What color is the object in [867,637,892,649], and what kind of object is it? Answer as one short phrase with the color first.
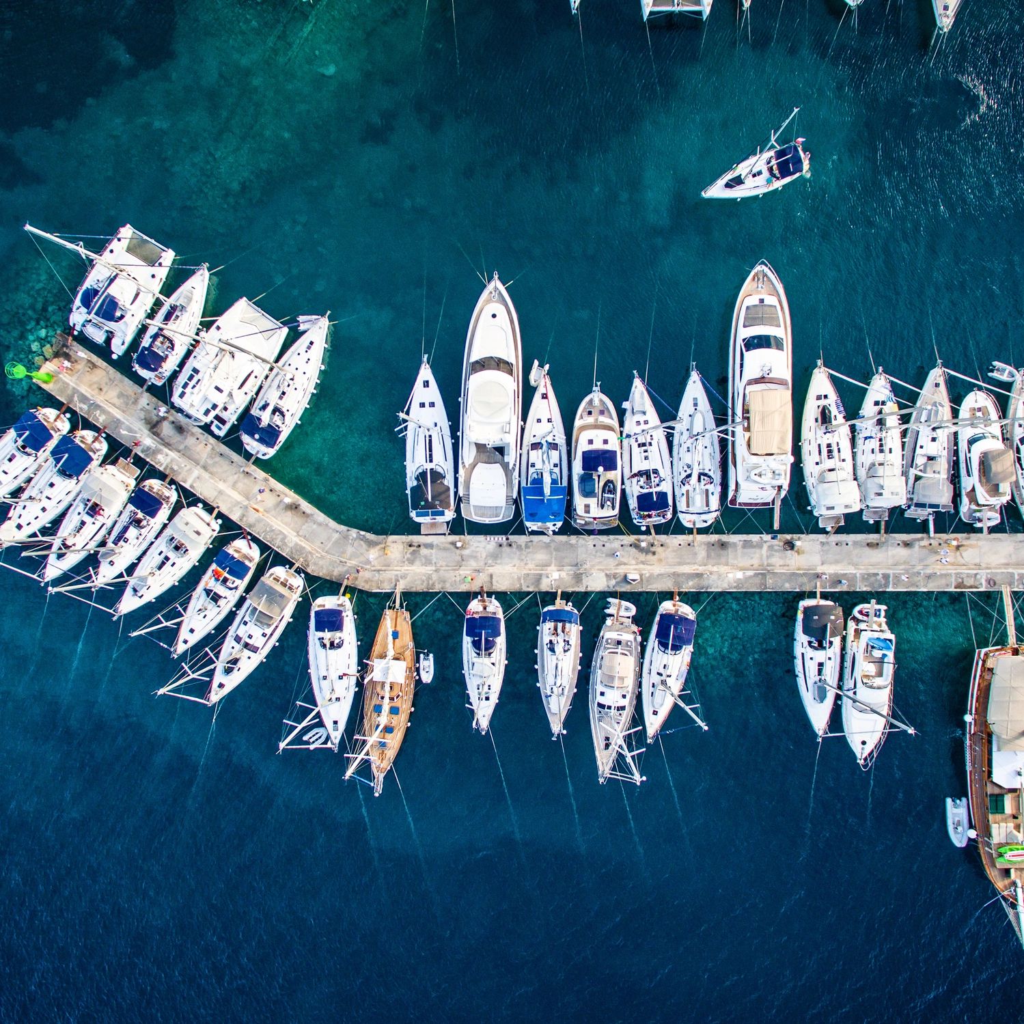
blue boat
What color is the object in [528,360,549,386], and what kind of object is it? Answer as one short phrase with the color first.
white boat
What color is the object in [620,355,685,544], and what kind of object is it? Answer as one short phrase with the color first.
white boat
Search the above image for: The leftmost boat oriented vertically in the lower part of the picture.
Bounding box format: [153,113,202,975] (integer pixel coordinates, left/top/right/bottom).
[278,576,363,755]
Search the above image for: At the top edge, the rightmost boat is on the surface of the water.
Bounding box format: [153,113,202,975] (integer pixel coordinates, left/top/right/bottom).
[923,0,962,62]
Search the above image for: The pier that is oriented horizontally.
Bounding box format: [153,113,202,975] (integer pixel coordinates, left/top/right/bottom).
[33,332,1024,591]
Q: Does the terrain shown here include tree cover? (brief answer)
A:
No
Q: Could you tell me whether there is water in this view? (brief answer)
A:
Yes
